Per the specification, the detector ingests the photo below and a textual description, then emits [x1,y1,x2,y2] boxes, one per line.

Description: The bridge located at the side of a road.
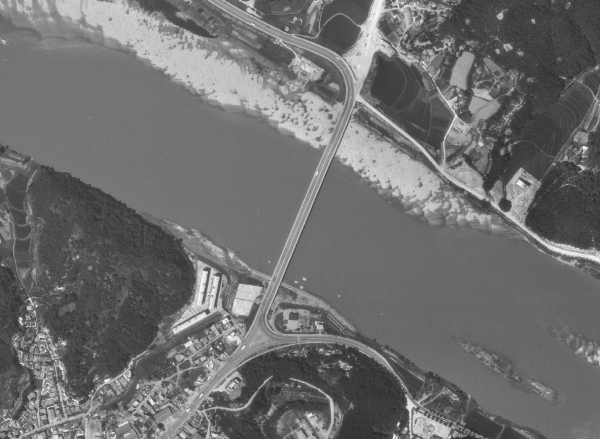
[268,91,356,289]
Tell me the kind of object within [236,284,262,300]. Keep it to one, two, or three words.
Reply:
building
